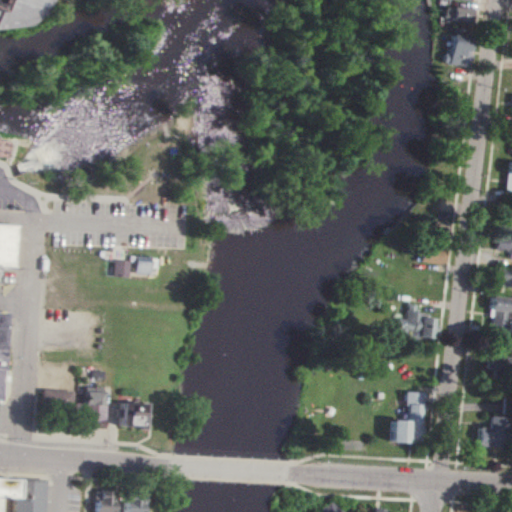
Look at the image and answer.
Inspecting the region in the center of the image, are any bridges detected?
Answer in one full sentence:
No, there is no bridge in the center of the image.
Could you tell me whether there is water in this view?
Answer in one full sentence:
Yes, some water is visible.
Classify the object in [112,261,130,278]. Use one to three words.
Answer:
building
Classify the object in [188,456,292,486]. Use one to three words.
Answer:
bridge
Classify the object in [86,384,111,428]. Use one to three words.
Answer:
house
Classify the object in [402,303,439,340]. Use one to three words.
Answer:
house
